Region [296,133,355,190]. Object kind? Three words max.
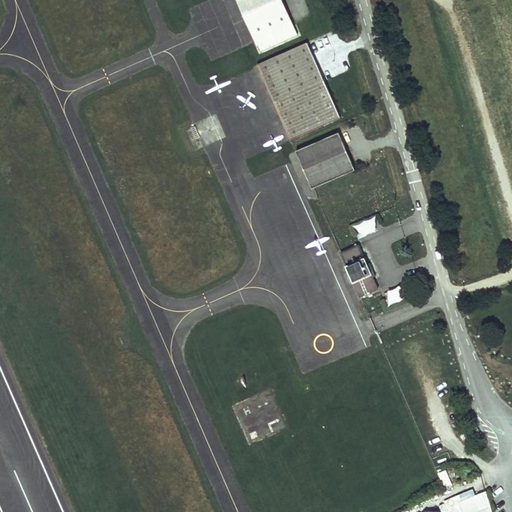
hangar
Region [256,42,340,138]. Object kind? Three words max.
hangar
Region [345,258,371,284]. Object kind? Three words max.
building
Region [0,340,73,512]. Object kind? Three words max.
runway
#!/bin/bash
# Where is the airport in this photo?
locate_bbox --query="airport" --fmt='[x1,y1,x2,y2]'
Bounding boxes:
[0,0,368,512]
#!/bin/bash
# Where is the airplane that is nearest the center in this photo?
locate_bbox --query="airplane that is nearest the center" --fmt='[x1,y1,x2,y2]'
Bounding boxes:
[304,236,330,256]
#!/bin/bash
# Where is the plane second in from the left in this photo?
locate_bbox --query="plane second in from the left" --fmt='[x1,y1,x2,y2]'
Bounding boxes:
[236,90,257,111]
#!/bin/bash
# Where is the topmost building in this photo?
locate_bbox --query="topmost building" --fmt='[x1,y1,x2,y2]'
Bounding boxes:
[235,0,300,55]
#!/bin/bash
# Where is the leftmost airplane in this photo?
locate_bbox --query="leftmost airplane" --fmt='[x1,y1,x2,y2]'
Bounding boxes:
[206,74,231,94]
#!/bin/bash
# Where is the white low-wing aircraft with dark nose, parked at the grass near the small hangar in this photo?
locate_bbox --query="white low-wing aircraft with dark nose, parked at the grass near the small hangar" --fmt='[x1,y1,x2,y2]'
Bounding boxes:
[262,134,284,153]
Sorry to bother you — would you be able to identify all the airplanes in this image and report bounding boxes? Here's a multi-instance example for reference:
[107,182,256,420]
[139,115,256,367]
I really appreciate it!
[262,134,284,153]
[236,90,257,111]
[304,236,330,256]
[206,74,231,94]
